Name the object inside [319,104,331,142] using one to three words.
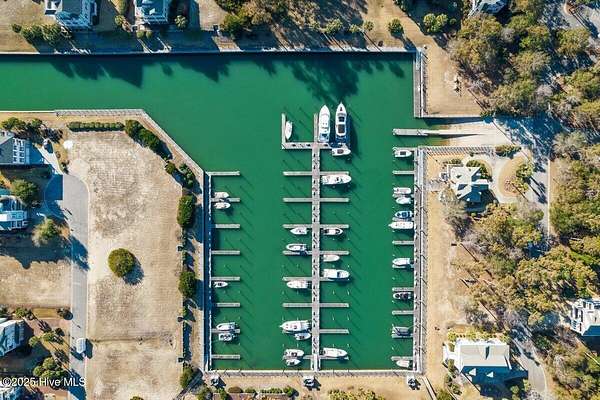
boat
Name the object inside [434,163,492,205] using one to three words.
house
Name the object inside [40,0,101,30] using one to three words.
house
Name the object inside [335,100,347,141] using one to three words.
boat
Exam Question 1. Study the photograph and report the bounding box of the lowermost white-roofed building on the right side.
[434,333,515,380]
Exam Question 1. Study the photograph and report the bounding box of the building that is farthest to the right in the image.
[568,299,600,336]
